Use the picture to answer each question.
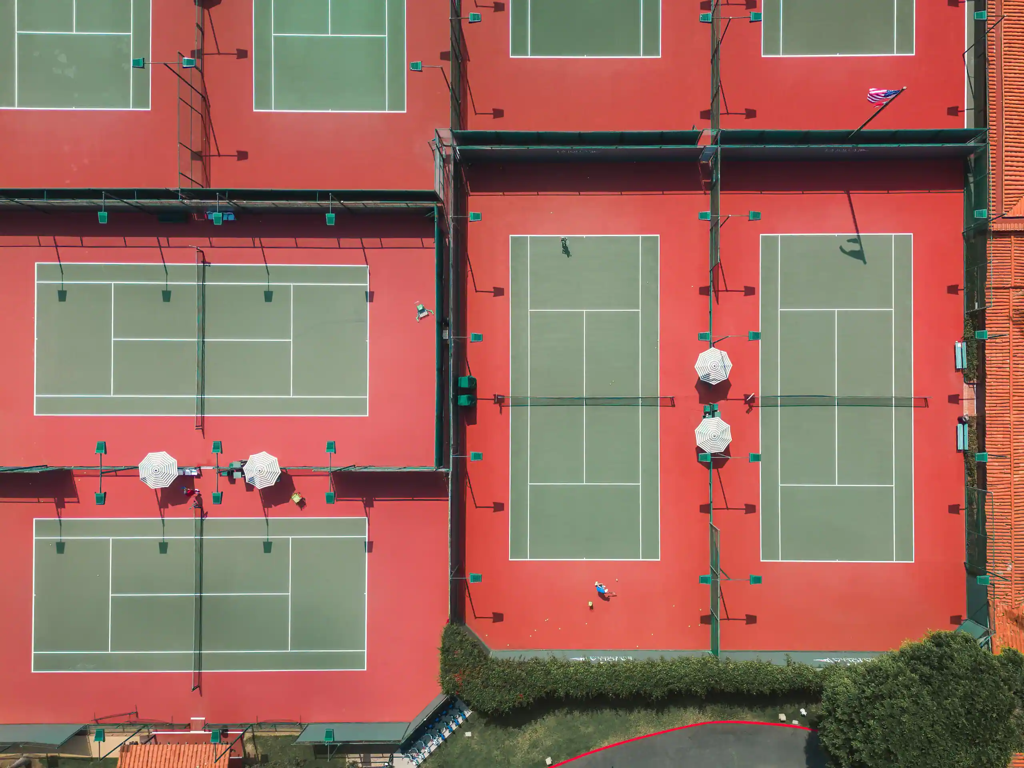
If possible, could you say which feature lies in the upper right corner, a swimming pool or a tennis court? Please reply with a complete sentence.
What appears in the upper right corner is a tennis court.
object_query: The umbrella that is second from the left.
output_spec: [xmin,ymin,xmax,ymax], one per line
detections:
[246,450,285,488]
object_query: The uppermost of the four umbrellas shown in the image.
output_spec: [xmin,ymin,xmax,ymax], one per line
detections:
[693,347,732,386]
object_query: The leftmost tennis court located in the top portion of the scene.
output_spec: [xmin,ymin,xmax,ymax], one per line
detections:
[0,0,202,191]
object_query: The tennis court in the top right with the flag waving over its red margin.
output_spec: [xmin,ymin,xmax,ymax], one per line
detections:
[721,0,966,147]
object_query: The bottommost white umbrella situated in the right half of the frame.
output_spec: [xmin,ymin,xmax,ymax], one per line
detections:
[693,416,732,454]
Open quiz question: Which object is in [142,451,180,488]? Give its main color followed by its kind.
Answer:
white umbrella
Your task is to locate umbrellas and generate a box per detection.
[693,347,732,386]
[246,450,285,488]
[693,416,732,454]
[142,451,180,488]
